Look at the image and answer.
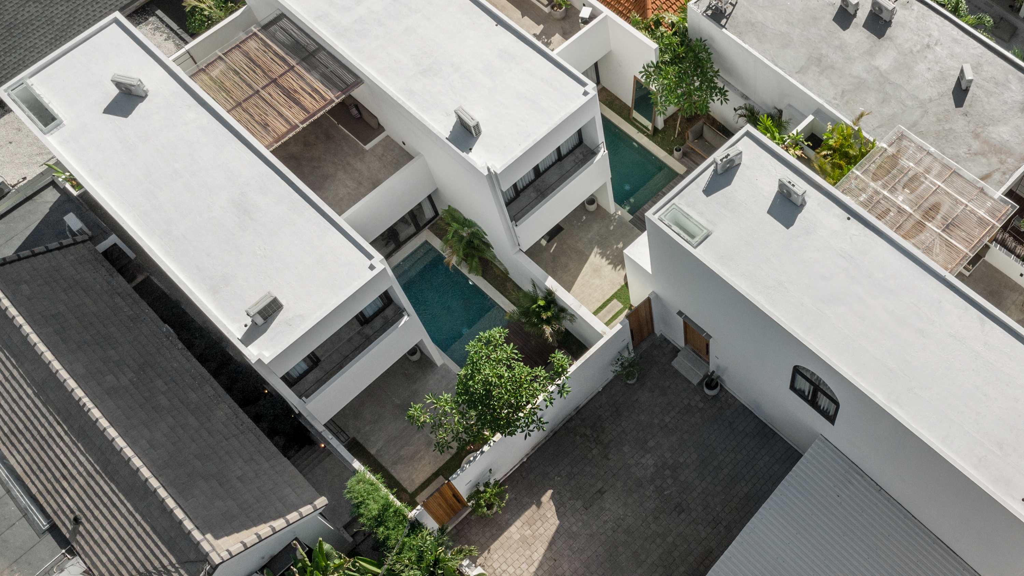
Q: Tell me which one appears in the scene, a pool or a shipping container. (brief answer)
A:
pool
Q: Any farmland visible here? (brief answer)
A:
No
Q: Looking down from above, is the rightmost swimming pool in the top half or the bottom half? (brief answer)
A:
top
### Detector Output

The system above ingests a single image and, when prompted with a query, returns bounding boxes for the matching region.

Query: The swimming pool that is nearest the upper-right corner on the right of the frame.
[599,103,688,221]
